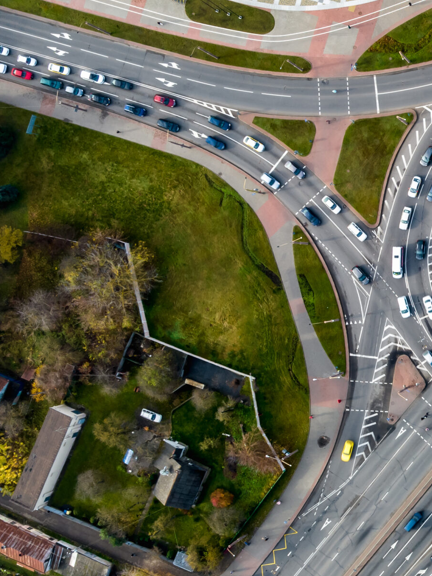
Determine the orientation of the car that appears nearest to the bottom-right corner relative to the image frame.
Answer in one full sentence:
From this overhead view, the car that appears nearest to the bottom-right corner appears to run diagonally.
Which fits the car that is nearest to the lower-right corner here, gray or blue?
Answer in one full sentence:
The color of the car that is nearest to the lower-right corner is blue.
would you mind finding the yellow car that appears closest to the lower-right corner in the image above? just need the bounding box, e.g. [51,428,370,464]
[341,439,354,462]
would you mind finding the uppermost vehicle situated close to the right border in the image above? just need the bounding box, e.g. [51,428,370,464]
[419,145,432,166]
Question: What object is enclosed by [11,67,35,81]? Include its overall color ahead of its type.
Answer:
red car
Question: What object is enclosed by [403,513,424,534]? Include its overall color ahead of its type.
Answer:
blue car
